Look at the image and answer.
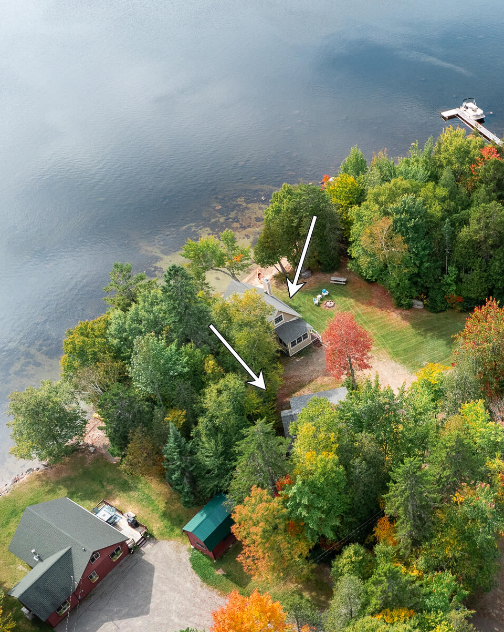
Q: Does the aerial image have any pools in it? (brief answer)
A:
No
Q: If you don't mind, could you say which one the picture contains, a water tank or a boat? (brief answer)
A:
boat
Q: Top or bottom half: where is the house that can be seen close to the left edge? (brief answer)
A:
bottom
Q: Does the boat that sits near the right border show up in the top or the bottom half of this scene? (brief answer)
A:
top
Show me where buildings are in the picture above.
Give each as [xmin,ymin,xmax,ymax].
[282,386,357,448]
[224,274,320,355]
[5,495,148,626]
[183,498,243,559]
